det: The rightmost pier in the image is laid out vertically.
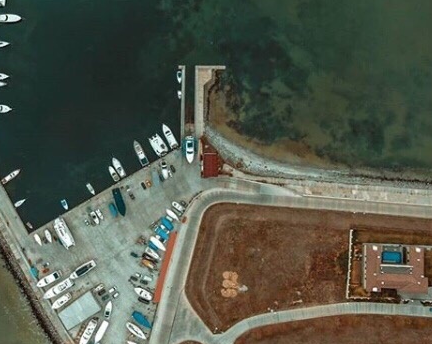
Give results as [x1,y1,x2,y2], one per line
[194,65,226,142]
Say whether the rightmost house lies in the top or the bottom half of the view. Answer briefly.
bottom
